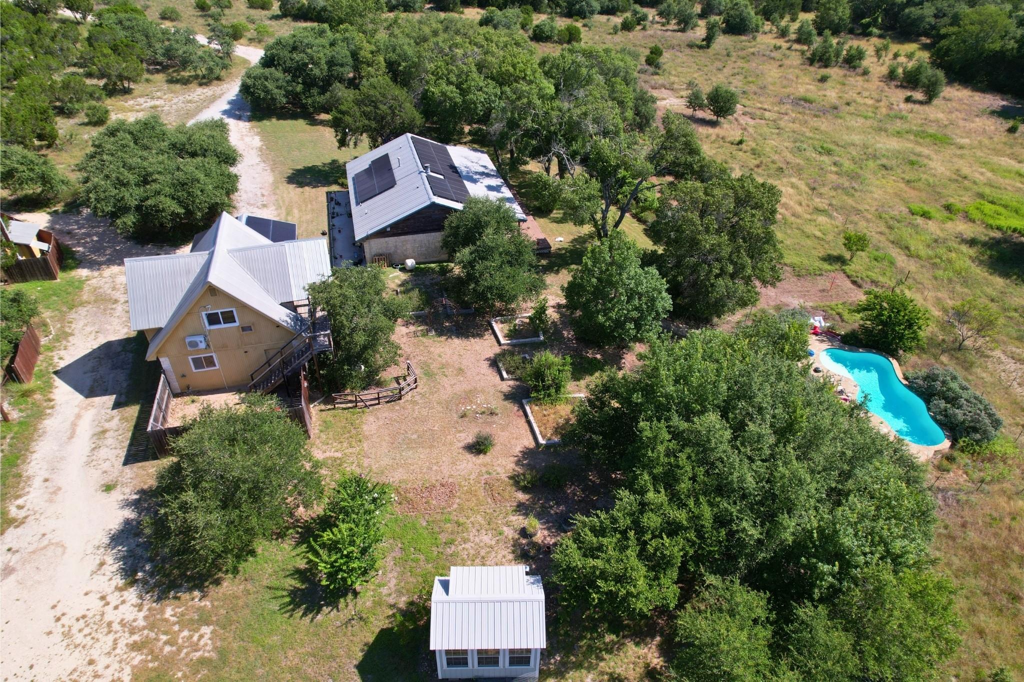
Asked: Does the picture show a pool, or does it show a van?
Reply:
pool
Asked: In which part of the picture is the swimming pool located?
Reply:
right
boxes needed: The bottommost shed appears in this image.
[429,566,546,680]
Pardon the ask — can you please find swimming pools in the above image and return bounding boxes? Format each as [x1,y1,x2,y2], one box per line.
[821,348,945,445]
